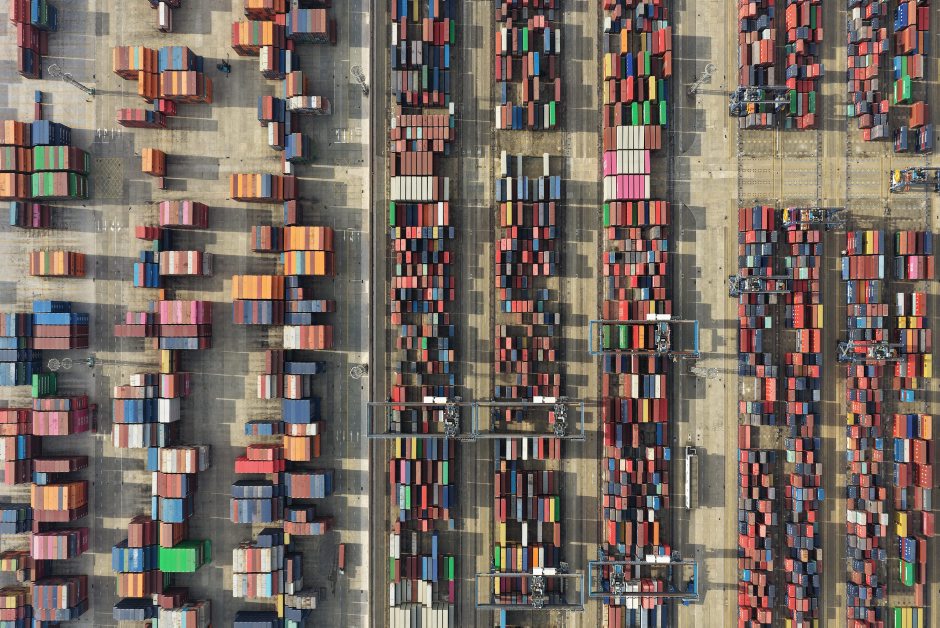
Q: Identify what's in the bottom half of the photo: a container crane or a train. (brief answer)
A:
container crane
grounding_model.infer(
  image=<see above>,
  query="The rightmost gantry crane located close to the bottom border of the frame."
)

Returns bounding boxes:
[588,545,699,602]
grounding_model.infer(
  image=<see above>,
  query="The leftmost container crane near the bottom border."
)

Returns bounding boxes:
[476,556,585,614]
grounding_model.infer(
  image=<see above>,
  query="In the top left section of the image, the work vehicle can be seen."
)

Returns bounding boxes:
[214,54,229,77]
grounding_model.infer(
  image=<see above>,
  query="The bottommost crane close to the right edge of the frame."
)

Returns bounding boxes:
[837,338,908,364]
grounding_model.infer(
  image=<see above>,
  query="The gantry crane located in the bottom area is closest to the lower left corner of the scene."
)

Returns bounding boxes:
[367,395,476,443]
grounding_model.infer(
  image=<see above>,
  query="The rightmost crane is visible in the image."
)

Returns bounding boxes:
[890,165,940,197]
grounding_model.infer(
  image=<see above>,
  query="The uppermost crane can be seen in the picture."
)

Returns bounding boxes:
[730,83,794,121]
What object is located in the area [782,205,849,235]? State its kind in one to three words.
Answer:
crane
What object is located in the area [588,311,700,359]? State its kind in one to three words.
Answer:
container crane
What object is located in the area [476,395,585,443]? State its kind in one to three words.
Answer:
container crane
